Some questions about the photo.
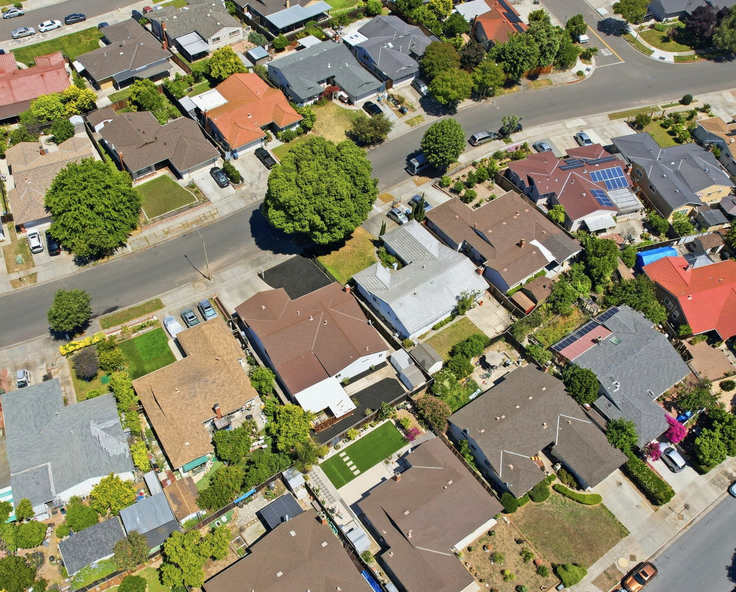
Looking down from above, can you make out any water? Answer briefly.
No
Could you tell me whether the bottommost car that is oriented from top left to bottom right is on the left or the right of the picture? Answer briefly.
right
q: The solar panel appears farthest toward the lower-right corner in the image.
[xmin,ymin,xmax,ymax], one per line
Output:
[554,307,618,352]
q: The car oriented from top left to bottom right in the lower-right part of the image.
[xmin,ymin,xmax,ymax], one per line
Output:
[656,439,693,474]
